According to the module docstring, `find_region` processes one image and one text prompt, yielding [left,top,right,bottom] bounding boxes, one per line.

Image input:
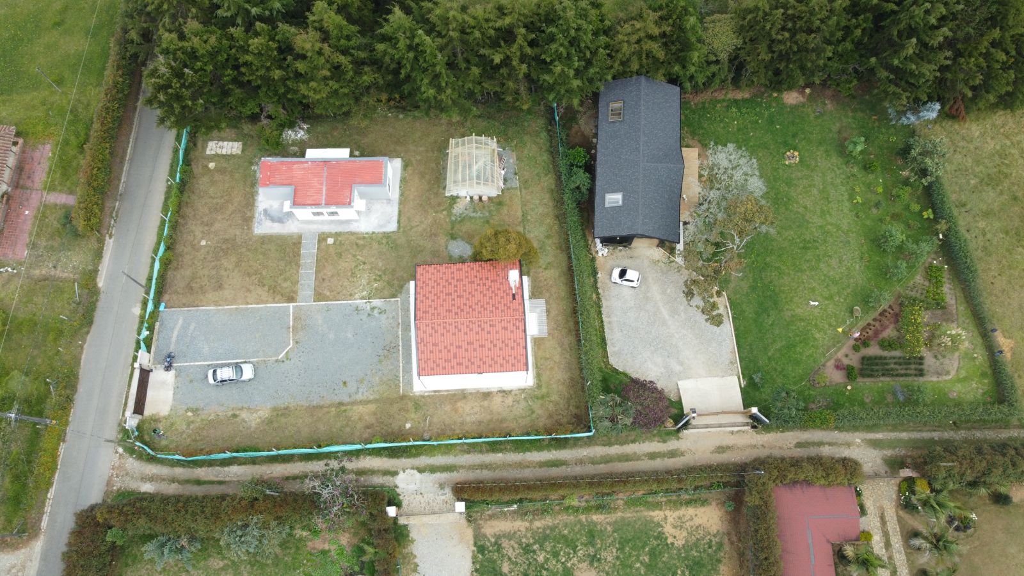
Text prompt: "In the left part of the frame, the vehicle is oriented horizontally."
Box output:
[206,362,253,386]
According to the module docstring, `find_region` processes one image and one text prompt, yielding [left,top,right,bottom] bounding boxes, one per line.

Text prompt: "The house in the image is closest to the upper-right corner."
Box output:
[594,75,685,252]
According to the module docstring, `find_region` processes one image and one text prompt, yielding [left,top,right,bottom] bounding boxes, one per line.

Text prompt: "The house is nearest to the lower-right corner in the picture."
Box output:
[771,486,860,576]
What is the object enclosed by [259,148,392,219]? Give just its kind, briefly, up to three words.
house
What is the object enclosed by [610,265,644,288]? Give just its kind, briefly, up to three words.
car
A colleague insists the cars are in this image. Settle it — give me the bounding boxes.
[610,265,644,288]
[206,362,253,386]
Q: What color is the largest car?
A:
white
